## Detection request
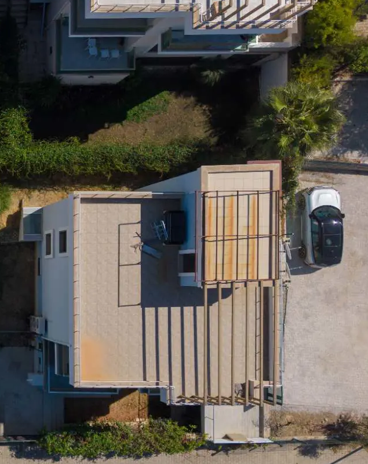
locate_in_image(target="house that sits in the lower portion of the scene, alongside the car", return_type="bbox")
[8,161,282,444]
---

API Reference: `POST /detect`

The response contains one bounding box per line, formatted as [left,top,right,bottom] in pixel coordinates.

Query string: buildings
[8,161,282,444]
[29,0,318,86]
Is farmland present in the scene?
No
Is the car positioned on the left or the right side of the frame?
right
